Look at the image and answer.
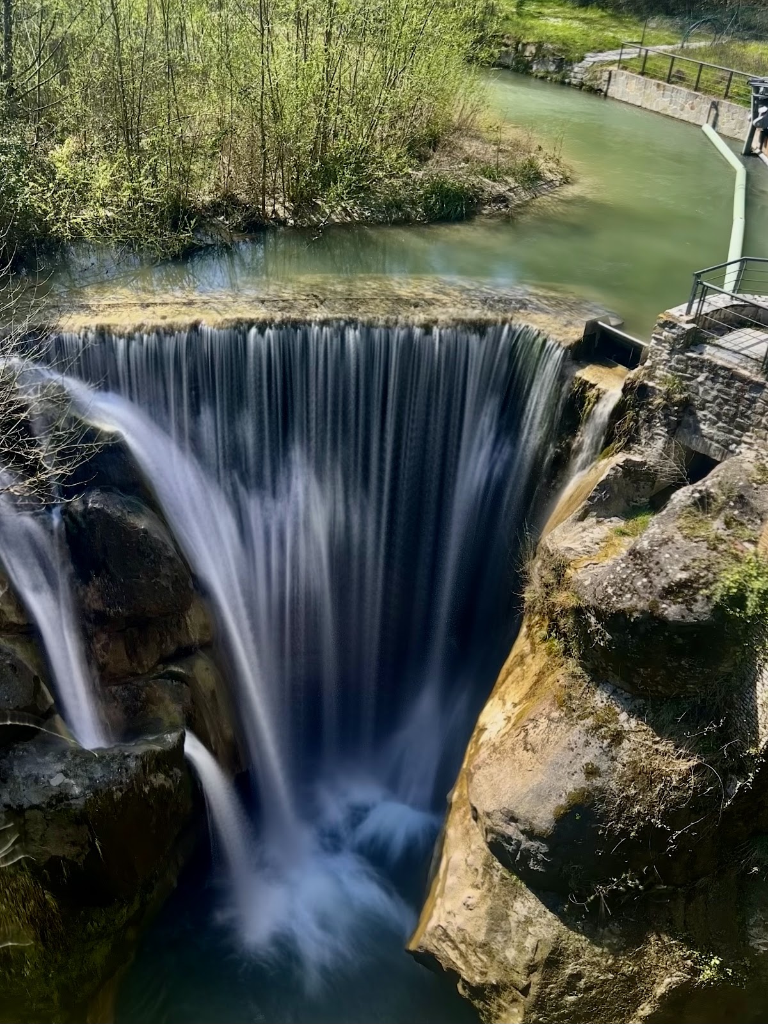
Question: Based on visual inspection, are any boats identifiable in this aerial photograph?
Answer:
No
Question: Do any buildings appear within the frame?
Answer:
No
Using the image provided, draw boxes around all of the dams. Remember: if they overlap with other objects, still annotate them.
[0,278,610,684]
